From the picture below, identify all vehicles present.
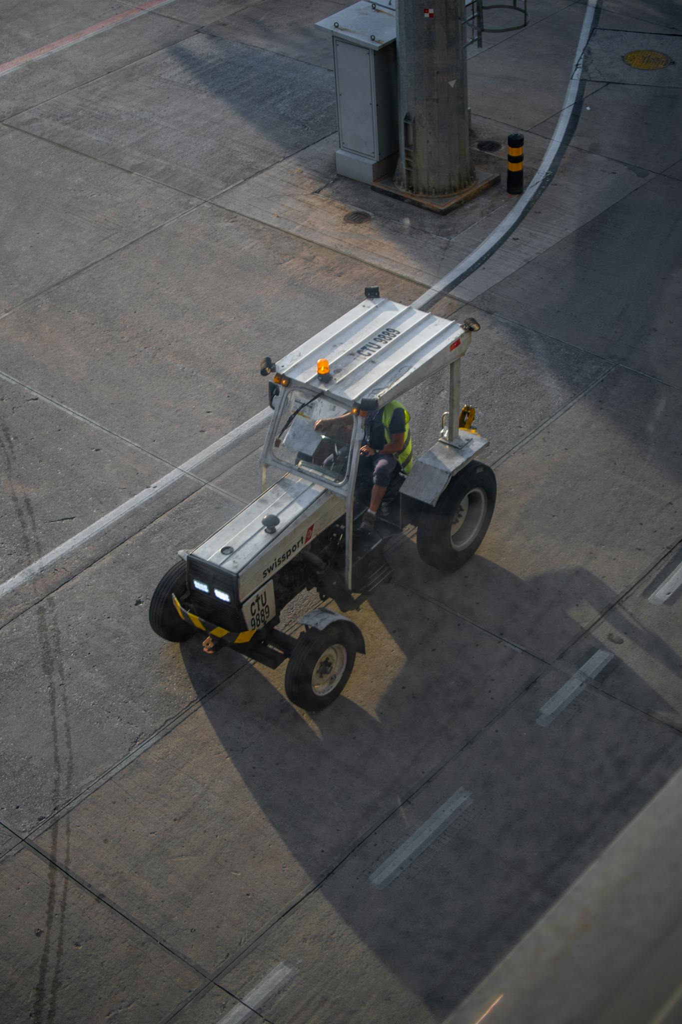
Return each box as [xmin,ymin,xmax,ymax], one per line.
[147,281,498,715]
